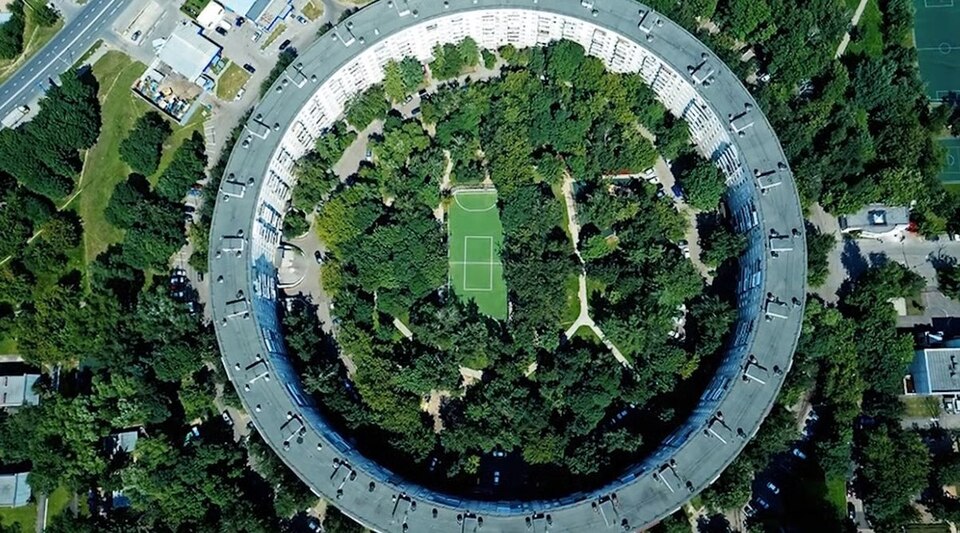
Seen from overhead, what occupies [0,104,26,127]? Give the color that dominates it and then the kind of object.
white truck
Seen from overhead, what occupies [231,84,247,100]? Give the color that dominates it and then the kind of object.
white vehicle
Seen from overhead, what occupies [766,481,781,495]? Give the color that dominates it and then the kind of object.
blue car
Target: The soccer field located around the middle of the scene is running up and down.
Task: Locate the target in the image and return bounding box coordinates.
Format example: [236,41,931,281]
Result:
[447,189,509,334]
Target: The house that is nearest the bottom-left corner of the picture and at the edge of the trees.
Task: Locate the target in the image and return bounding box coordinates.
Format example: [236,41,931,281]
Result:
[0,471,38,507]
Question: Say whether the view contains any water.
No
